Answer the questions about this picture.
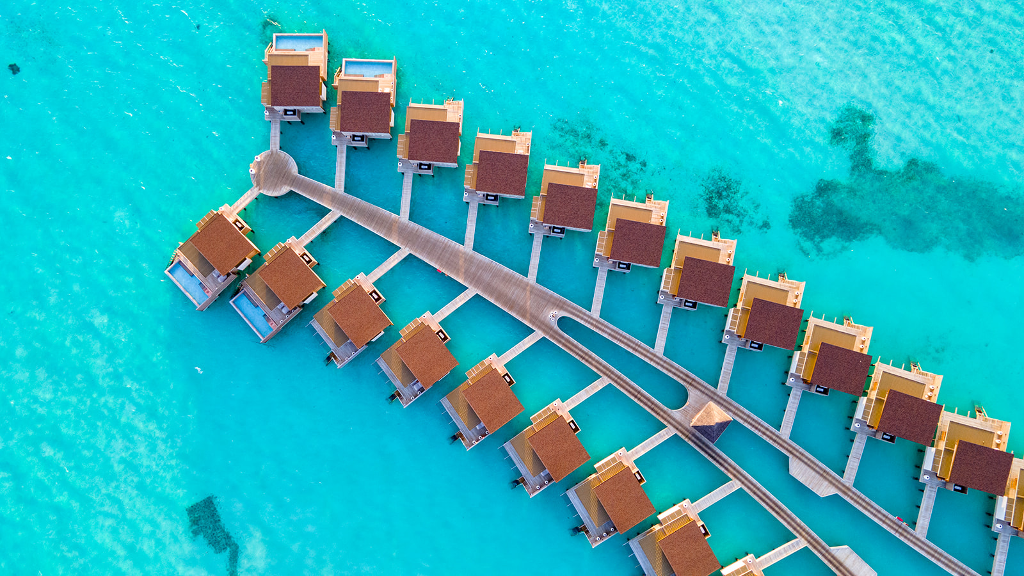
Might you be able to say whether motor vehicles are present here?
No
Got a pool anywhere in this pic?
Yes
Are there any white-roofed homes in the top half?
No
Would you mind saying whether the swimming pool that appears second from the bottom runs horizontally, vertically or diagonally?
diagonally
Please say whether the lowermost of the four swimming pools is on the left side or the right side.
left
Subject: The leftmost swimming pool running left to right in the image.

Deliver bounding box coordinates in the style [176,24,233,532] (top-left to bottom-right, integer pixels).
[274,33,326,50]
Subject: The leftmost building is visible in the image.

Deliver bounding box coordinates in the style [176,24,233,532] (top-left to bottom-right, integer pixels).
[174,203,266,313]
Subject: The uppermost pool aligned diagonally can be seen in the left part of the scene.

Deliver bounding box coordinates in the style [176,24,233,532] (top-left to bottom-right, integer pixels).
[166,259,220,308]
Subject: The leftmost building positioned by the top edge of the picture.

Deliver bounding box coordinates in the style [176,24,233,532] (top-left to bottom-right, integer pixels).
[261,27,333,125]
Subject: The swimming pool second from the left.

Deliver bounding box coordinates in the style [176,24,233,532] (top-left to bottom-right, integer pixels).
[230,289,277,341]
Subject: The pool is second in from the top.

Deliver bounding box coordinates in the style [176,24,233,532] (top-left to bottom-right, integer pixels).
[343,57,397,76]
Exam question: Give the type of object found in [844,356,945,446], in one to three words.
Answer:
house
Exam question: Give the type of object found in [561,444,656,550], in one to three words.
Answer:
house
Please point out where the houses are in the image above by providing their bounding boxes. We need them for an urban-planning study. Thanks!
[436,351,525,454]
[238,235,331,345]
[463,128,536,209]
[329,53,401,150]
[720,550,768,576]
[718,268,809,353]
[372,309,461,411]
[174,203,266,313]
[527,159,604,240]
[655,229,741,312]
[499,396,591,500]
[396,97,468,178]
[844,356,945,446]
[911,404,1014,496]
[781,311,876,397]
[561,444,656,550]
[261,27,333,125]
[307,271,396,371]
[591,192,672,275]
[623,495,721,576]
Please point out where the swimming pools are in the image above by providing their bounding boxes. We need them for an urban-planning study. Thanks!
[274,33,326,50]
[230,289,277,341]
[343,57,397,76]
[166,259,220,308]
